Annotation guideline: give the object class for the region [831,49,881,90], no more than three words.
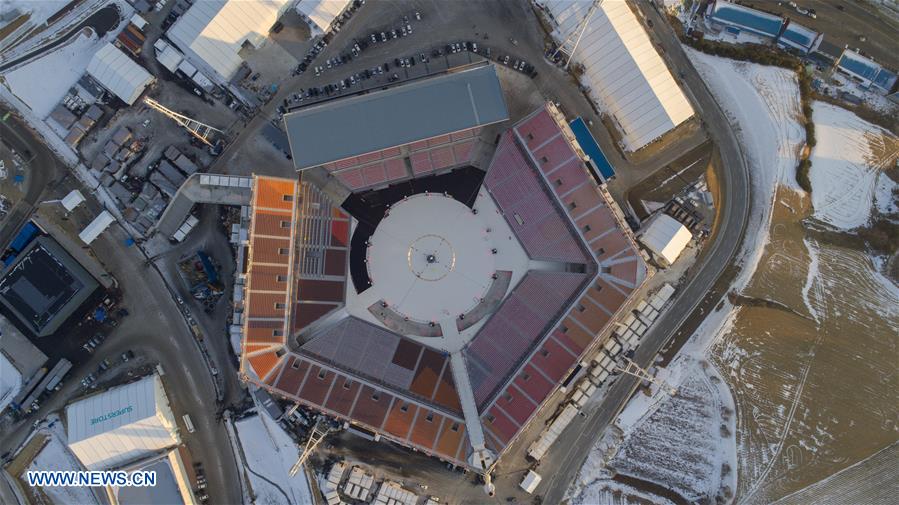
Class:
house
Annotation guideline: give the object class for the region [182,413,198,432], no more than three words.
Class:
vehicle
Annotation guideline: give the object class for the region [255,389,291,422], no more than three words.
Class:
shed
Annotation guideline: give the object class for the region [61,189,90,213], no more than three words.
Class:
tent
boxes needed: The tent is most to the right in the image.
[637,213,693,264]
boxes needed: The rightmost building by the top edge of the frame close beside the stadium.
[525,0,695,154]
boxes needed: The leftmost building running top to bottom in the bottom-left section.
[0,351,28,418]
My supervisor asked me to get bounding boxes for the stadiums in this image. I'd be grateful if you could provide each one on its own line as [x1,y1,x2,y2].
[239,58,651,476]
